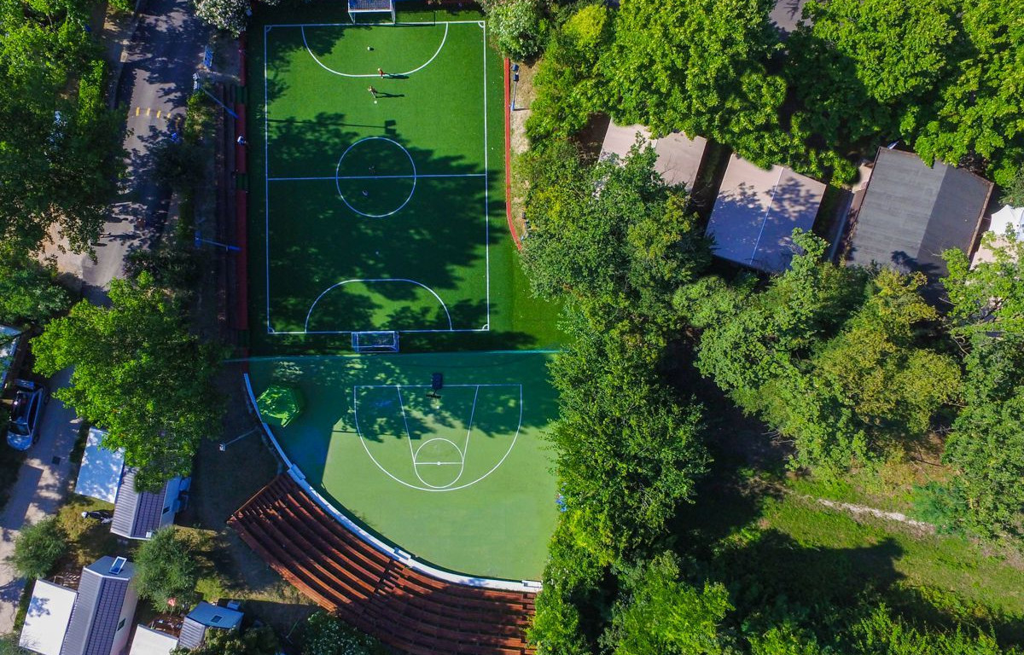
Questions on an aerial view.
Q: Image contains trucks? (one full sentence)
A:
No, the picture doesn't show any truck.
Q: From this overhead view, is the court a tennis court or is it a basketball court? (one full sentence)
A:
It looks like the court is a basketball court.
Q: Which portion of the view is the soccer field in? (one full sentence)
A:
The soccer field sits in the top section of the image.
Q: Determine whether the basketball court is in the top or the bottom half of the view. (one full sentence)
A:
You can find the basketball court in the bottom half.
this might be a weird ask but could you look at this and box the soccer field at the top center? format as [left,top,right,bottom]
[236,0,589,356]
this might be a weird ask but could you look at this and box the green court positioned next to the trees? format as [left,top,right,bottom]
[246,352,589,581]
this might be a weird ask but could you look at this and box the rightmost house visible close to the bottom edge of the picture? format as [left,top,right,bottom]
[171,591,252,655]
